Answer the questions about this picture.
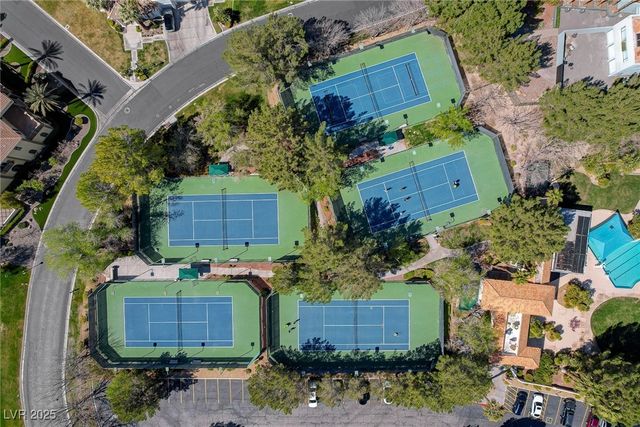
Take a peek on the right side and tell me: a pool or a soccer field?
pool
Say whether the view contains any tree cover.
Yes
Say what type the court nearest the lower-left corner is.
tennis court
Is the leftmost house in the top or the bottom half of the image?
top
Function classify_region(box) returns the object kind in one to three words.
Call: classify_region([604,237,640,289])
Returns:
swimming pool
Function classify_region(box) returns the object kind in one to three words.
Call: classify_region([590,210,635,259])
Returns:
swimming pool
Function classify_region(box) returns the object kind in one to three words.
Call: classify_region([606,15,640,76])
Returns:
house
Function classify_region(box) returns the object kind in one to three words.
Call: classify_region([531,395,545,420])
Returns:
vehicle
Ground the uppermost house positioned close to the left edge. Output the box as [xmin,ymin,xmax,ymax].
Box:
[0,83,58,190]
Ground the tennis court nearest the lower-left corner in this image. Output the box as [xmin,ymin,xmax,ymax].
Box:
[97,280,262,363]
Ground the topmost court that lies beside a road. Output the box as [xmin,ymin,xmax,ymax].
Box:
[279,31,461,157]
